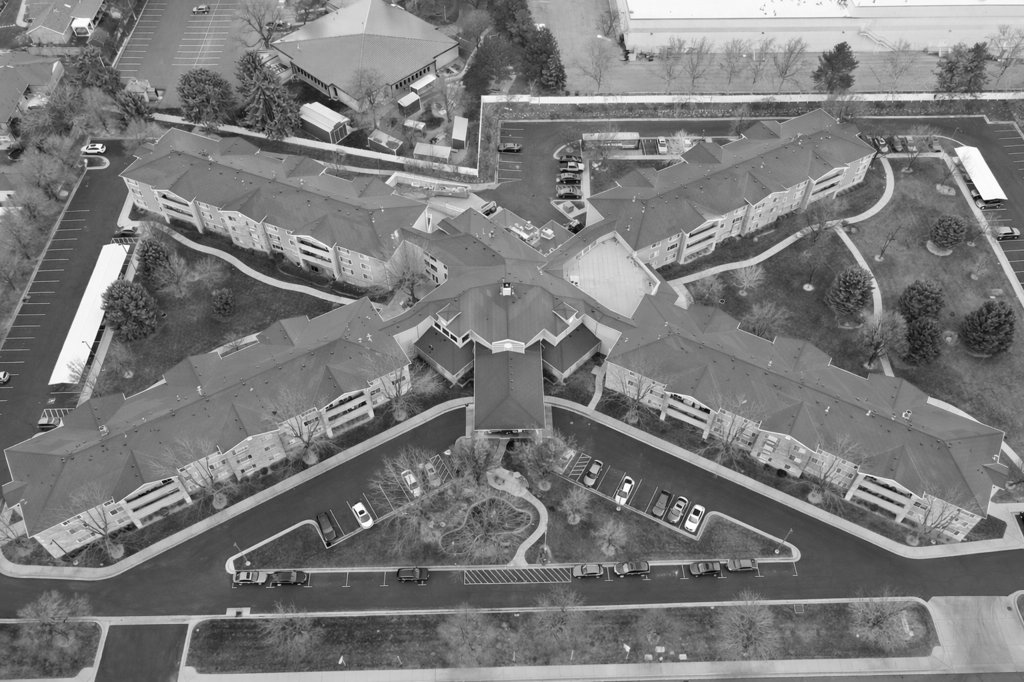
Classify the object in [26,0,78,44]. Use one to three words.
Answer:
house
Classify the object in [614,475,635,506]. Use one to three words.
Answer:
car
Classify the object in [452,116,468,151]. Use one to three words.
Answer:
shed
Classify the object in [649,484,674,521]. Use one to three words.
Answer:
truck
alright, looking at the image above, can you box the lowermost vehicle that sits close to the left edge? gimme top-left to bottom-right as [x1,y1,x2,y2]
[34,415,66,430]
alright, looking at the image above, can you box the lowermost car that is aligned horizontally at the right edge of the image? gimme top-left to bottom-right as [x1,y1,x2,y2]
[993,227,1019,239]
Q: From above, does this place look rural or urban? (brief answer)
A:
urban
